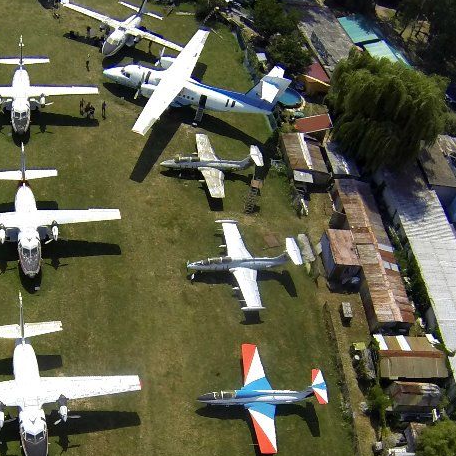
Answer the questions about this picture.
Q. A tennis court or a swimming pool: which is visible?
swimming pool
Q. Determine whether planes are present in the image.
Yes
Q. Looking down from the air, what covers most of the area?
grass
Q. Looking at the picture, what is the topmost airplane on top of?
grass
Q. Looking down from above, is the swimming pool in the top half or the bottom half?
top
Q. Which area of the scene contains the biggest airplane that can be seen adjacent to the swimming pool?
top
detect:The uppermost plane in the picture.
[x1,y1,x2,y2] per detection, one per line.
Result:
[60,0,187,59]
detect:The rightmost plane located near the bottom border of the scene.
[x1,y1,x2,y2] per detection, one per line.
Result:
[197,345,330,454]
